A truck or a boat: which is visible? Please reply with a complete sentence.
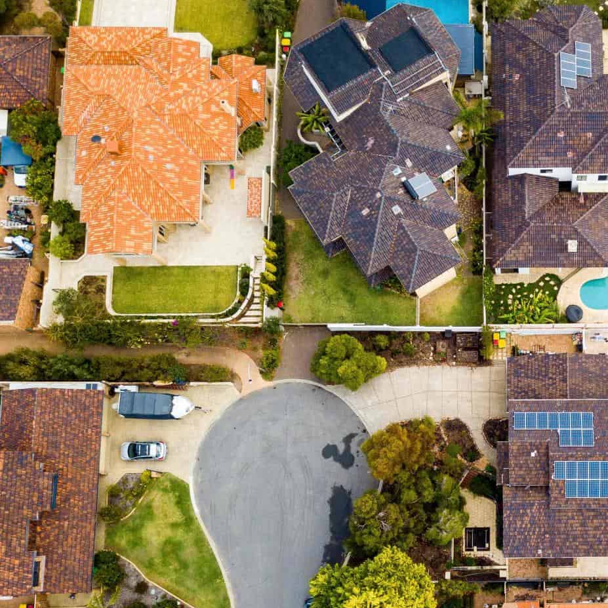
It is a boat that can be seen here.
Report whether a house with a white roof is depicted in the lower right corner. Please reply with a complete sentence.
No, in the lower right corner there is no house with a white roof.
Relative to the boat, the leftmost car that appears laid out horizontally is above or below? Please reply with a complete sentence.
As seen from overhead, the leftmost car that appears laid out horizontally falls below the boat in the picture.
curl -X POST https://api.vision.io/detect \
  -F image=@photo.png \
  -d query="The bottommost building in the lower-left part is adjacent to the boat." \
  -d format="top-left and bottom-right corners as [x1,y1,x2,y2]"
[0,387,111,600]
